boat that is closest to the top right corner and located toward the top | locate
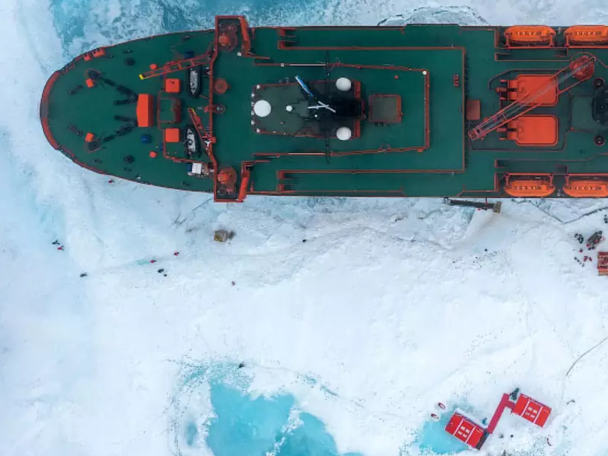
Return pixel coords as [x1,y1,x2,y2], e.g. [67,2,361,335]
[563,26,608,46]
